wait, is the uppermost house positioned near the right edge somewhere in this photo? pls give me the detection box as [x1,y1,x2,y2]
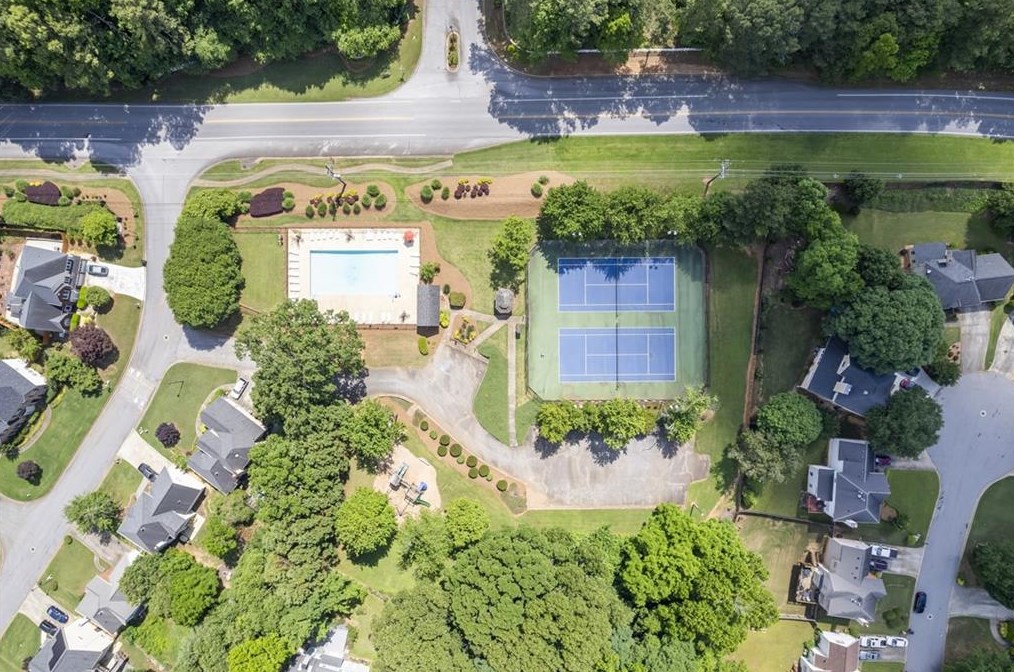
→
[902,240,1014,311]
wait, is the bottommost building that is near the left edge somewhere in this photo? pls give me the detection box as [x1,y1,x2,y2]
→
[30,617,115,672]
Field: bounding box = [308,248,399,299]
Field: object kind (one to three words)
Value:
swimming pool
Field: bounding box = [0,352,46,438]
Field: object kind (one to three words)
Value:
house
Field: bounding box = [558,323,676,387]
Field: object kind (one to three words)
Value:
tennis court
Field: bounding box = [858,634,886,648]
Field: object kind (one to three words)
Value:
vehicle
